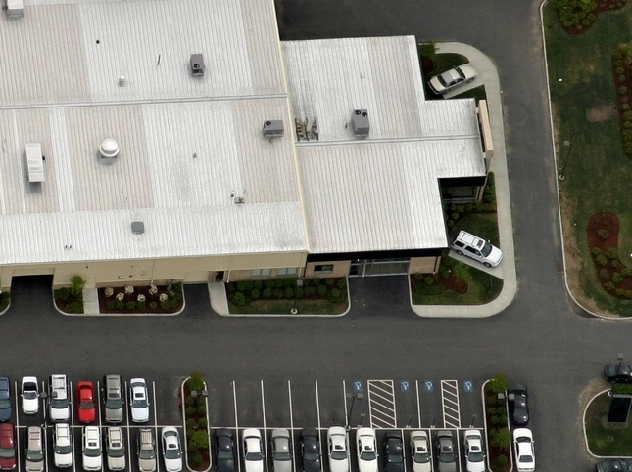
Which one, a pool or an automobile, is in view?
automobile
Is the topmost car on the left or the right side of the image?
right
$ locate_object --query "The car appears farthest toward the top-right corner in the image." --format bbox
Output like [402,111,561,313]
[426,65,480,96]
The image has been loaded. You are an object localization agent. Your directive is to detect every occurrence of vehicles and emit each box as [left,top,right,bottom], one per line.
[326,426,350,472]
[300,428,324,472]
[241,428,265,472]
[271,429,294,472]
[426,65,480,96]
[355,428,380,472]
[507,383,530,425]
[19,375,41,414]
[76,381,98,423]
[137,426,158,472]
[0,423,19,471]
[53,422,74,468]
[383,431,405,472]
[49,374,71,422]
[464,429,487,472]
[106,425,127,471]
[102,374,126,423]
[24,425,47,472]
[213,428,237,472]
[410,430,433,472]
[0,375,14,422]
[602,365,632,385]
[512,426,536,472]
[449,230,502,268]
[161,426,183,472]
[130,377,151,423]
[82,424,104,471]
[435,430,458,472]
